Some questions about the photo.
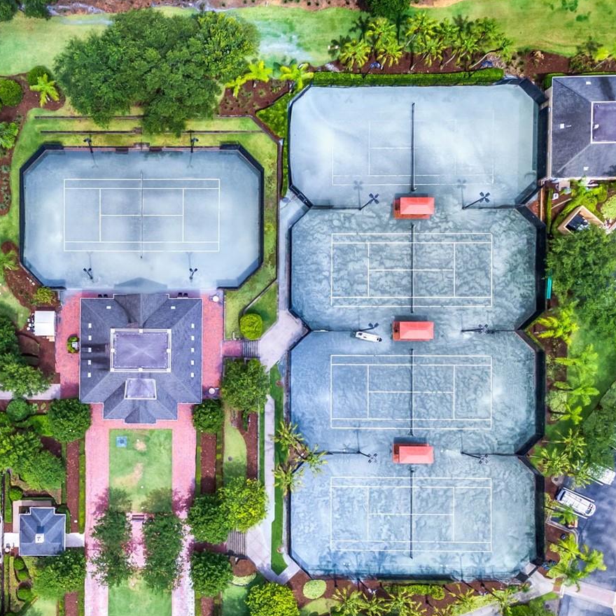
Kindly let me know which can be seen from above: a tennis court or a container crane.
tennis court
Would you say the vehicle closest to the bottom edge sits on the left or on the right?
right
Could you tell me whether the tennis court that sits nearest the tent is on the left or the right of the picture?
left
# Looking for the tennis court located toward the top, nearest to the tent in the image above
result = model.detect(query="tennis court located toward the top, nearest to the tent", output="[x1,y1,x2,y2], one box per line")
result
[21,146,261,291]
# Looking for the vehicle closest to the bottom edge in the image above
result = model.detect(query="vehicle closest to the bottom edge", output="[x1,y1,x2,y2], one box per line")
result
[554,488,600,516]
